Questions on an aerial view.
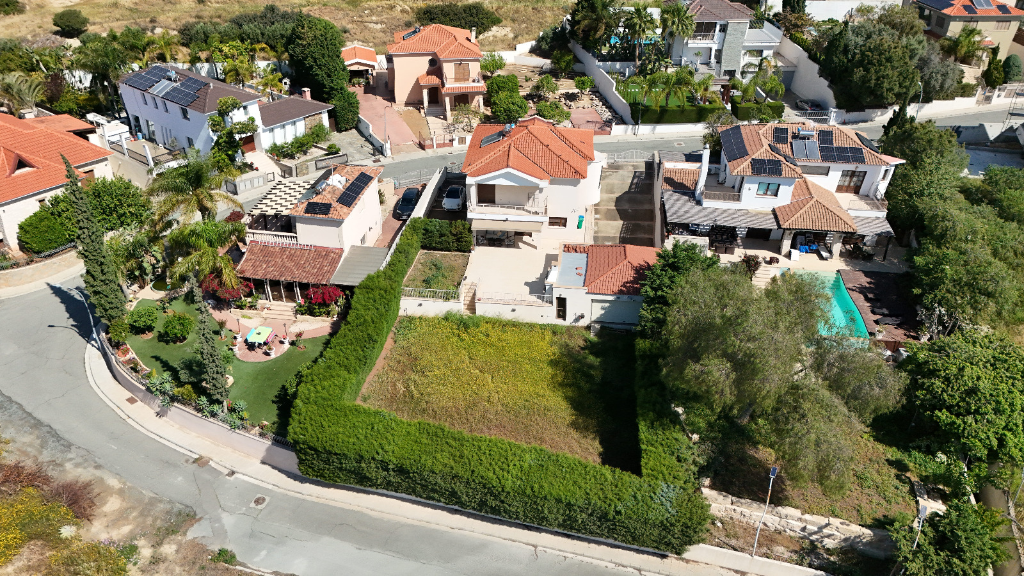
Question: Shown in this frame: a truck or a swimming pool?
swimming pool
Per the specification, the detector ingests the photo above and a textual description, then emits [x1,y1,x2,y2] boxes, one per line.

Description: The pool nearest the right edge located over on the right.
[775,265,871,361]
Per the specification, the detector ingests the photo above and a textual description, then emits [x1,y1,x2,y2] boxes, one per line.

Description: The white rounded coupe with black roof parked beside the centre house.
[427,182,463,219]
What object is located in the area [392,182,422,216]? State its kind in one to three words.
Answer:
car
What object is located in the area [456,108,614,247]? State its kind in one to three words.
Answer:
house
